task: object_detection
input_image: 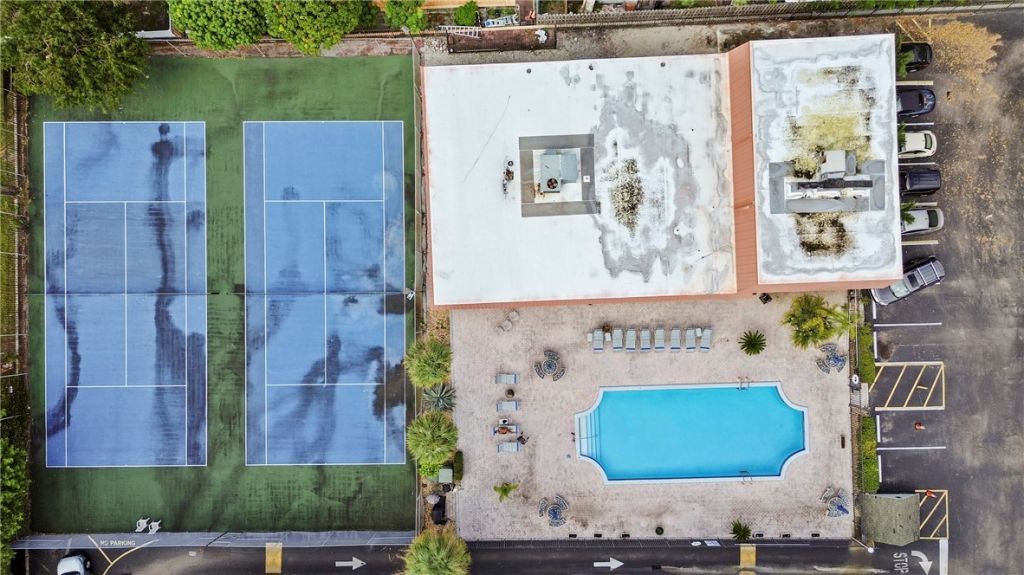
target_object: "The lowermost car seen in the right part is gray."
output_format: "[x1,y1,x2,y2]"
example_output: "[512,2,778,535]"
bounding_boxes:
[871,257,946,305]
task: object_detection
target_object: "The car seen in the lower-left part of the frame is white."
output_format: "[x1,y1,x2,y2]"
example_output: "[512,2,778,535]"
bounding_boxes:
[58,552,90,575]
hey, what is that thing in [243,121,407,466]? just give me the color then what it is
blue tennis court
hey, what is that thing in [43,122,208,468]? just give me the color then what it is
blue tennis court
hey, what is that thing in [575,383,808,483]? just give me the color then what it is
blue swimming pool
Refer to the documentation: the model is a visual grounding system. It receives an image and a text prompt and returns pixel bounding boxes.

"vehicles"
[894,45,934,77]
[58,552,90,575]
[899,168,940,198]
[900,207,939,236]
[871,257,946,305]
[896,89,932,119]
[897,131,934,160]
